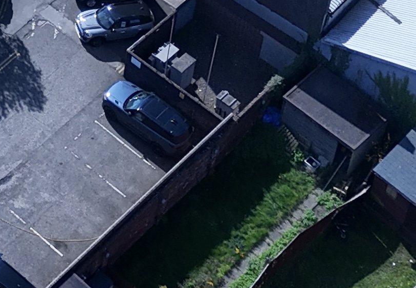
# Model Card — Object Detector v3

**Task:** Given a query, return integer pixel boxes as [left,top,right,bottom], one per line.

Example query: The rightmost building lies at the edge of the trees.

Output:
[364,121,416,244]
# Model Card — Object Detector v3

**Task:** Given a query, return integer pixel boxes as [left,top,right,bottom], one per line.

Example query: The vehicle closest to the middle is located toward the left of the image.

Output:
[105,84,194,155]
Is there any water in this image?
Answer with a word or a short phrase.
No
